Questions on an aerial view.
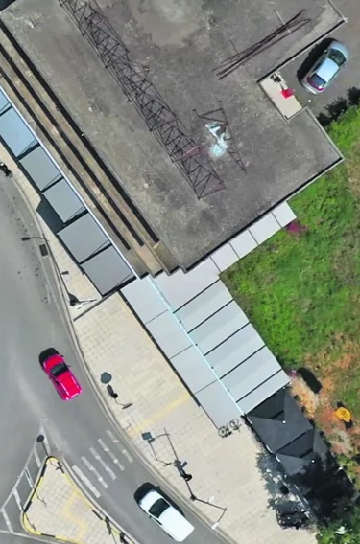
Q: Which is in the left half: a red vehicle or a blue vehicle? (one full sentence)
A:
Visible in the left half is a red vehicle.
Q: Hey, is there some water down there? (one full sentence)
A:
No, water can't be seen anywhere here.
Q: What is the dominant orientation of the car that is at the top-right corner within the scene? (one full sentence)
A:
In this picture, the car that is at the top-right corner is oriented on a diagonal.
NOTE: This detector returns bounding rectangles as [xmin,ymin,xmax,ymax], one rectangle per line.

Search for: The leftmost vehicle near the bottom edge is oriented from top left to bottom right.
[139,490,193,543]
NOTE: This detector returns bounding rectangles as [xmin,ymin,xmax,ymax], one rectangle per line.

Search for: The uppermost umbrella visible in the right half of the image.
[246,388,313,454]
